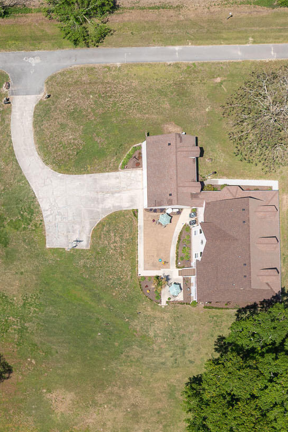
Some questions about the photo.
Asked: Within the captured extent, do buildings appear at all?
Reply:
Yes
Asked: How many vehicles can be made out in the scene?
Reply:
0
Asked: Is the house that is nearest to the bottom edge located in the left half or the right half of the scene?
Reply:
right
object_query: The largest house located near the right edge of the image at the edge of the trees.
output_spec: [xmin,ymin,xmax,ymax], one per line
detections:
[190,185,280,301]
